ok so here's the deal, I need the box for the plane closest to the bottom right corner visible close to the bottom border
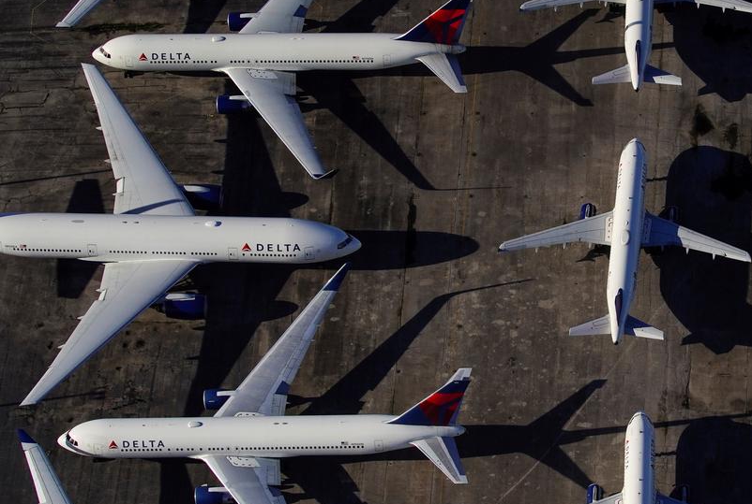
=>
[583,412,697,504]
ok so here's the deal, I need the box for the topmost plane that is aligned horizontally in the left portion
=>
[93,0,470,181]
